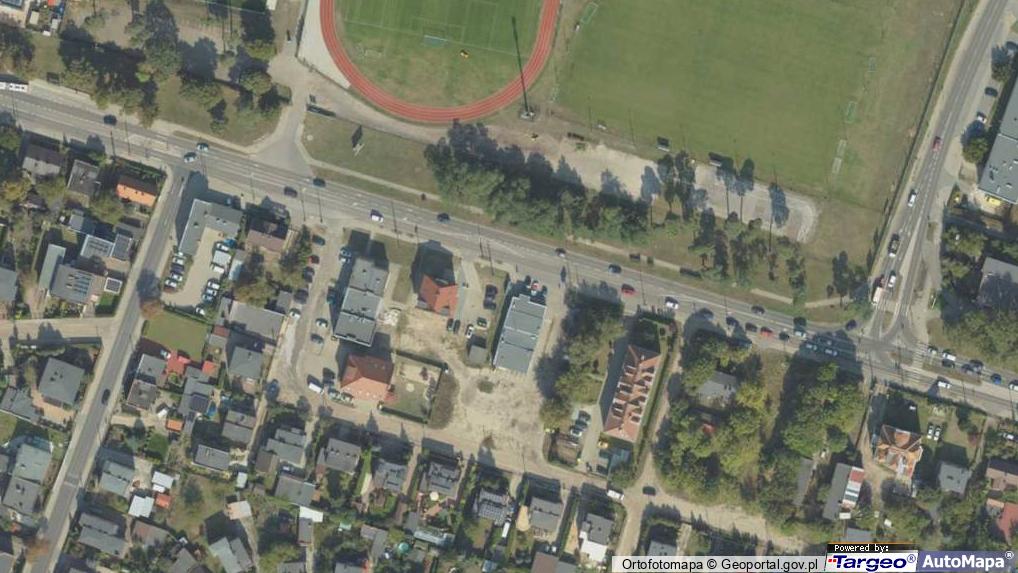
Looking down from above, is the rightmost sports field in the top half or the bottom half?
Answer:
top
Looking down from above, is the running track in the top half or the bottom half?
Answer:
top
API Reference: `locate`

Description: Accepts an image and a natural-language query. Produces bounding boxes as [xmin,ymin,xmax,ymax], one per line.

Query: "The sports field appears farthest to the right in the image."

[560,0,885,194]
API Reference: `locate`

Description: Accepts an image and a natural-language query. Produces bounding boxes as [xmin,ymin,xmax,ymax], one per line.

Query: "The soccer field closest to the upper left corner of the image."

[345,0,544,60]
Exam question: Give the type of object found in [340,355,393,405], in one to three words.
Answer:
house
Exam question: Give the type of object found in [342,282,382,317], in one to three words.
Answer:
building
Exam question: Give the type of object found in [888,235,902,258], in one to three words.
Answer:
vehicle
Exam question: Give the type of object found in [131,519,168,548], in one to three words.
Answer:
shed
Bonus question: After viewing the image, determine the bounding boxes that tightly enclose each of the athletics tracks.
[320,0,562,124]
